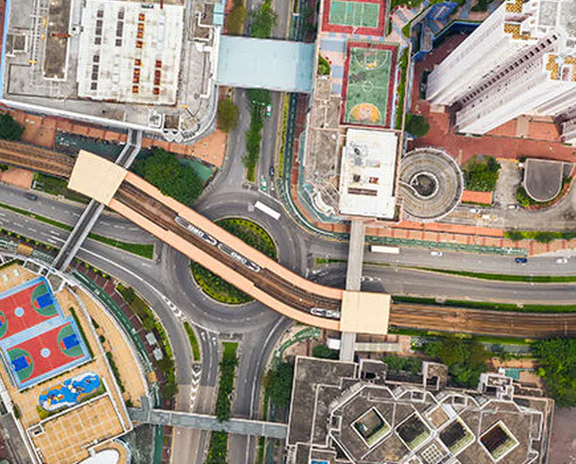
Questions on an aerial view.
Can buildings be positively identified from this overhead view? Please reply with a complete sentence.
Yes, you can see a building in this photo.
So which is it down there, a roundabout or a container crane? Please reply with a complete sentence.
There is a roundabout in the scene.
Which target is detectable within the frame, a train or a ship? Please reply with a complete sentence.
I can see a train in this picture.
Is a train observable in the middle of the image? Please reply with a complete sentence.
Yes, there is a train in the middle of the image.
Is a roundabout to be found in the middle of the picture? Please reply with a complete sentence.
Yes, a roundabout shows up in the middle of the picture.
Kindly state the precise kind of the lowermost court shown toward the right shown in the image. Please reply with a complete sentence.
I'd say the lowermost court shown toward the right is a basketball court.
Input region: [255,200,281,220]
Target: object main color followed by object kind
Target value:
white bus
